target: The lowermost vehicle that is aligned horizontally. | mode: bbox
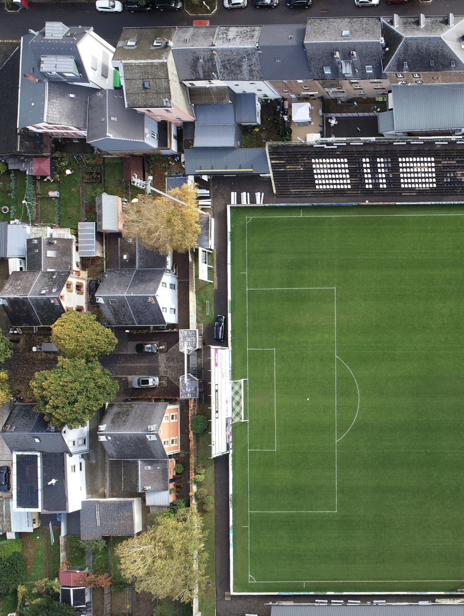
[133,376,158,388]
